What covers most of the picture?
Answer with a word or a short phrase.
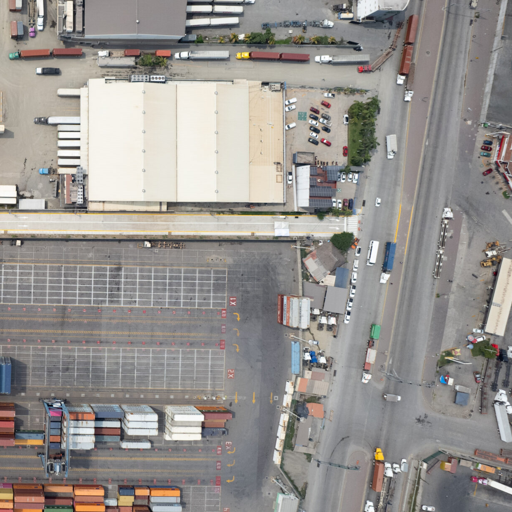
paved ground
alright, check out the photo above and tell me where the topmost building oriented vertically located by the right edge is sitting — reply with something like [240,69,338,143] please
[485,132,512,194]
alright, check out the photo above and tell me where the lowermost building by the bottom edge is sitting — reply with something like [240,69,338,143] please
[268,487,299,512]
